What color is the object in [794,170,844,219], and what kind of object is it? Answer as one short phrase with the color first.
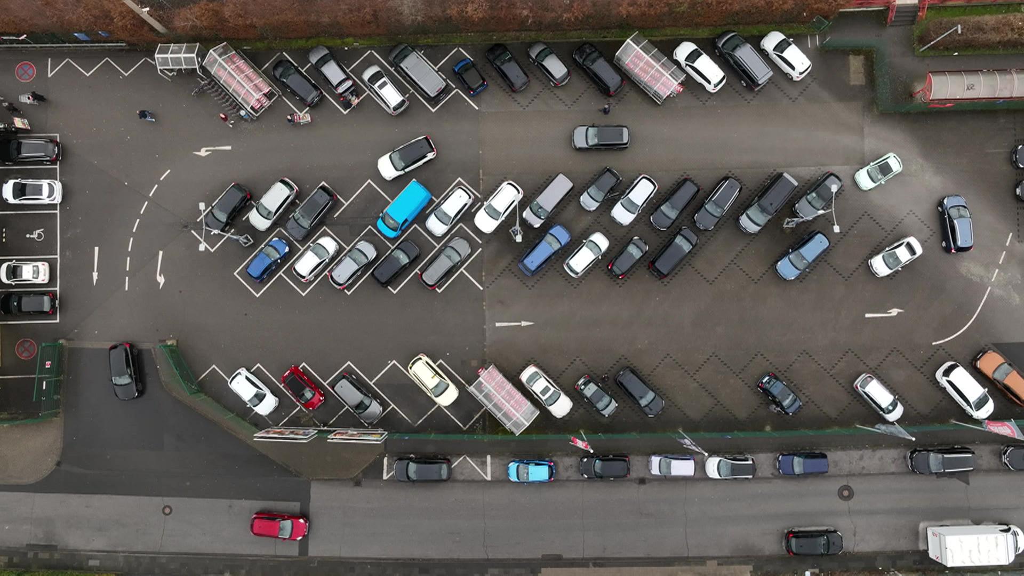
gray car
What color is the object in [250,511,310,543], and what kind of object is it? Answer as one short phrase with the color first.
red car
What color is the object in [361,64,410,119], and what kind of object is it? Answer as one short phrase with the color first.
white car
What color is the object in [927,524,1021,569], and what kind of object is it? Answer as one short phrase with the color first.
white truck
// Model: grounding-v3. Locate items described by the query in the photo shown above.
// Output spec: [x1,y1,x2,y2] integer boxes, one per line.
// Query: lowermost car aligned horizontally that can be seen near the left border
[0,292,60,320]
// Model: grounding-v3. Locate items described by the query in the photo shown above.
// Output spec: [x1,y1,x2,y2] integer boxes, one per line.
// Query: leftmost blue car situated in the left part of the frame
[246,238,291,282]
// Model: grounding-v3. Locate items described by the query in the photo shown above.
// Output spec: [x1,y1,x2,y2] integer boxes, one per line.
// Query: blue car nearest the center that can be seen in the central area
[519,225,568,277]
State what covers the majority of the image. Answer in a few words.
paved ground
